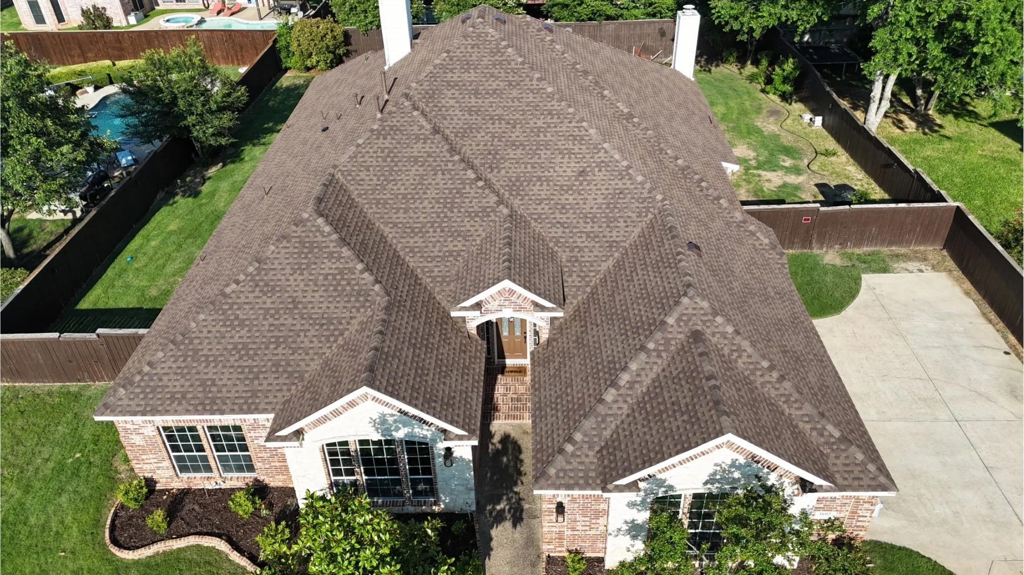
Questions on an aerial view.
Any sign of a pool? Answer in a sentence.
Yes, there's a pool down there.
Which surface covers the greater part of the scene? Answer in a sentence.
Most of the picture is covered by buildings.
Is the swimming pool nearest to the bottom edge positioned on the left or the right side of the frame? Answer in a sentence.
The swimming pool nearest to the bottom edge sits on the left side.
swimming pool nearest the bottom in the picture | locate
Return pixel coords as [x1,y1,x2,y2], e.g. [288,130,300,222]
[67,85,184,150]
